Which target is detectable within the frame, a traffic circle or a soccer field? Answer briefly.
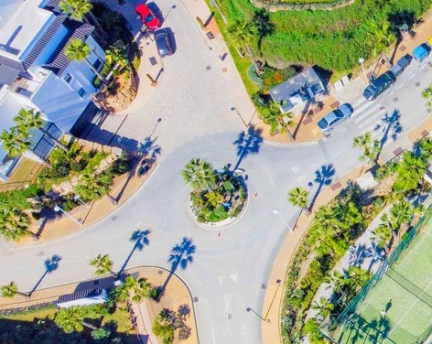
traffic circle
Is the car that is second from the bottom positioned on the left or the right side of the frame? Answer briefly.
right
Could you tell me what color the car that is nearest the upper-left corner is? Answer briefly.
red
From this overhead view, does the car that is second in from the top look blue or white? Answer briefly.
blue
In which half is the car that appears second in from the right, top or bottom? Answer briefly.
top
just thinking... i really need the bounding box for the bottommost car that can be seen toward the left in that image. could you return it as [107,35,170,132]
[153,29,175,58]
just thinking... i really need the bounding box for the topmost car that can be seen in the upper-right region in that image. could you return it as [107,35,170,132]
[363,70,398,101]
